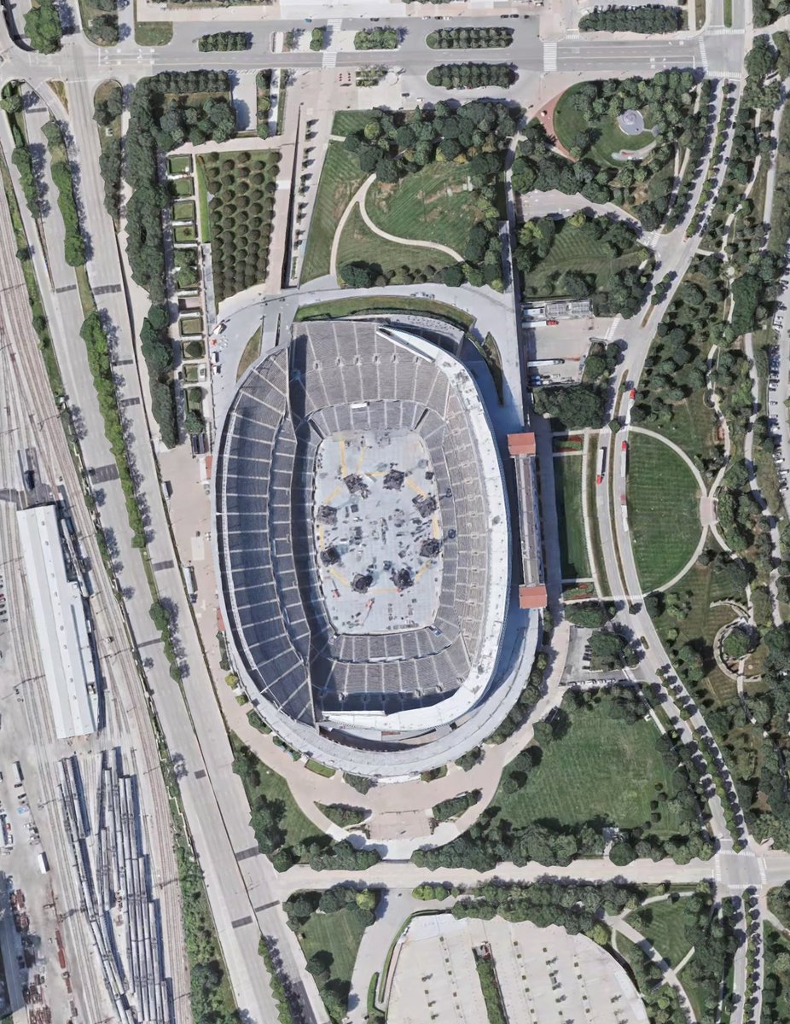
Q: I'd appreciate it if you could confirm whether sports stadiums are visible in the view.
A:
Yes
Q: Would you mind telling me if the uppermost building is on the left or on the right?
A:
right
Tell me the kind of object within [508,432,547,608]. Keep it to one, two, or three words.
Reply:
building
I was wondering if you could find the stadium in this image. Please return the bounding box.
[210,316,540,775]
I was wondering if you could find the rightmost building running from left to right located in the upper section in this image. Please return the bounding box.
[523,297,594,318]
